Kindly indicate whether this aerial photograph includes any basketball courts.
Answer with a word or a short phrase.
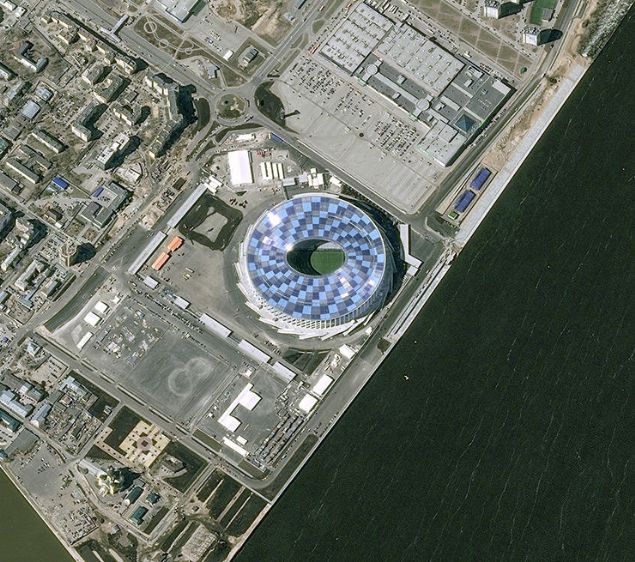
No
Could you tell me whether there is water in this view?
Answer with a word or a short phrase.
Yes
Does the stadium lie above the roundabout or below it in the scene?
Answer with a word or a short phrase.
below it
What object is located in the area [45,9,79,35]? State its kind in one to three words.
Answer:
building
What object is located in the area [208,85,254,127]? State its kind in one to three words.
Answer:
roundabout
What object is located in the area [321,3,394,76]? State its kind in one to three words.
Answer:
building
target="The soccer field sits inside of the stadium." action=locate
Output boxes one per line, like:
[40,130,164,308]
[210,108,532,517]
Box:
[287,246,345,275]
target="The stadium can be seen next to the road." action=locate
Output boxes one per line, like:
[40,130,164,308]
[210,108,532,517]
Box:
[234,192,398,343]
